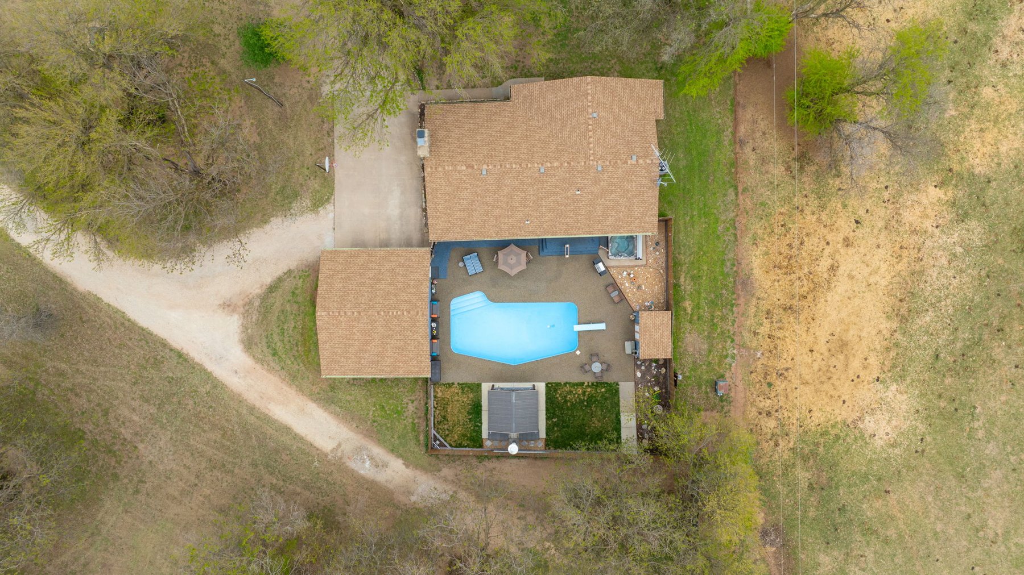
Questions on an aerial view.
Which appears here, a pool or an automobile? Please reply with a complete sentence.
It is a pool that can be seen here.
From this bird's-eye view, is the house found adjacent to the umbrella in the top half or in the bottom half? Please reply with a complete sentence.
It is in the top half that the house found adjacent to the umbrella appears.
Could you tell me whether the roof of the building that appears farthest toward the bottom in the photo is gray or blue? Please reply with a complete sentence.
The roof of the building that appears farthest toward the bottom is gray.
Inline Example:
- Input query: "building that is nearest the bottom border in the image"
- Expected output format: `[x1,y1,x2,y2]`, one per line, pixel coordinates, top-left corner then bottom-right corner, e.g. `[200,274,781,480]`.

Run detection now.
[488,385,539,442]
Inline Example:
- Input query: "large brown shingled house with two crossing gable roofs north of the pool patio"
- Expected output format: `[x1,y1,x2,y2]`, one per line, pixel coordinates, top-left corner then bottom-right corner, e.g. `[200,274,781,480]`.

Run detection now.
[418,75,665,243]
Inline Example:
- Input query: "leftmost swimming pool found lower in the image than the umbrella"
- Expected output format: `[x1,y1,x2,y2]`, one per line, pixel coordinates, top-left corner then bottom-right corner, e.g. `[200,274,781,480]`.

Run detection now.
[450,290,579,365]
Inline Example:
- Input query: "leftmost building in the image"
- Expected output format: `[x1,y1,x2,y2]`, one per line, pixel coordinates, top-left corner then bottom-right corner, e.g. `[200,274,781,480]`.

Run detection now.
[316,246,432,379]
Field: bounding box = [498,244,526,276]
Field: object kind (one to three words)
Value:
umbrella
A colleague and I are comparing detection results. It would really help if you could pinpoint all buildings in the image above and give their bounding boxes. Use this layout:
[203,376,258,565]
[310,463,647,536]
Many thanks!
[418,75,665,243]
[316,246,432,379]
[488,385,539,442]
[633,311,672,359]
